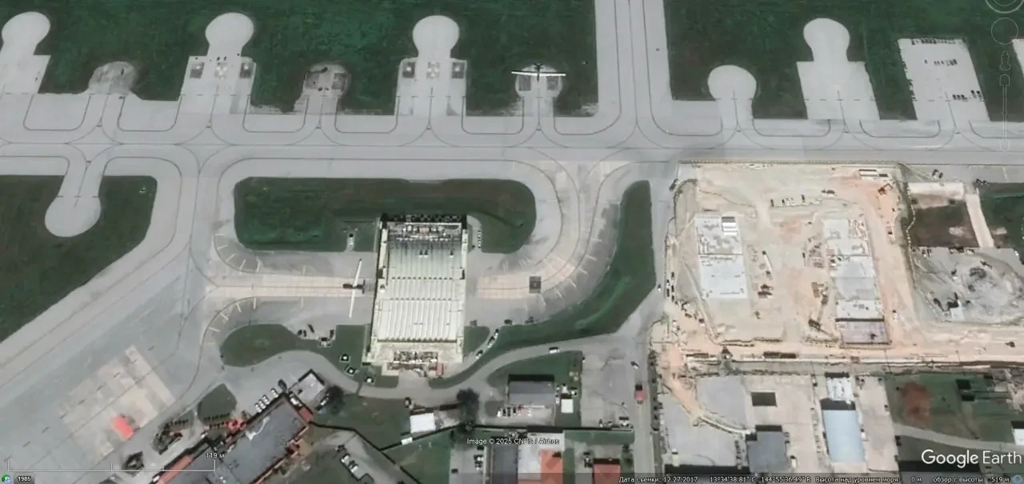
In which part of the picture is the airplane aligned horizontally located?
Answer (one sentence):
Look in the top portion of the view to spot the airplane aligned horizontally.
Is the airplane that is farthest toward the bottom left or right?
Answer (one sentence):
The airplane that is farthest toward the bottom sits on the left side.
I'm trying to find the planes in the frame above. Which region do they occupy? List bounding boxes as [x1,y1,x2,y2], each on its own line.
[512,62,566,84]
[343,260,365,314]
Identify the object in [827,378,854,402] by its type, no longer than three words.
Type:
shed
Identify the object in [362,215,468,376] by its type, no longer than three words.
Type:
hangar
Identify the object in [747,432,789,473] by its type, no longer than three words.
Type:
building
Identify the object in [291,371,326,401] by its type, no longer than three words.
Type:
building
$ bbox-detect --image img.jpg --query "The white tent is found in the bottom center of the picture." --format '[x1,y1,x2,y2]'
[409,412,437,435]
